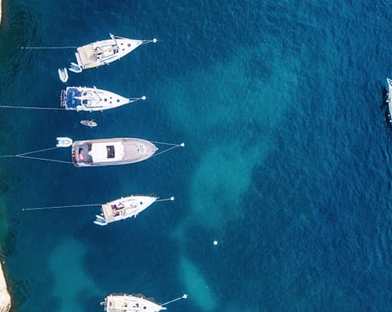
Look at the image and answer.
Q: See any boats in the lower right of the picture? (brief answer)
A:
No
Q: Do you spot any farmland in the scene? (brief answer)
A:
No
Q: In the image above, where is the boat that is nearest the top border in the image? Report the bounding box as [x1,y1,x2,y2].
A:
[74,34,145,67]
